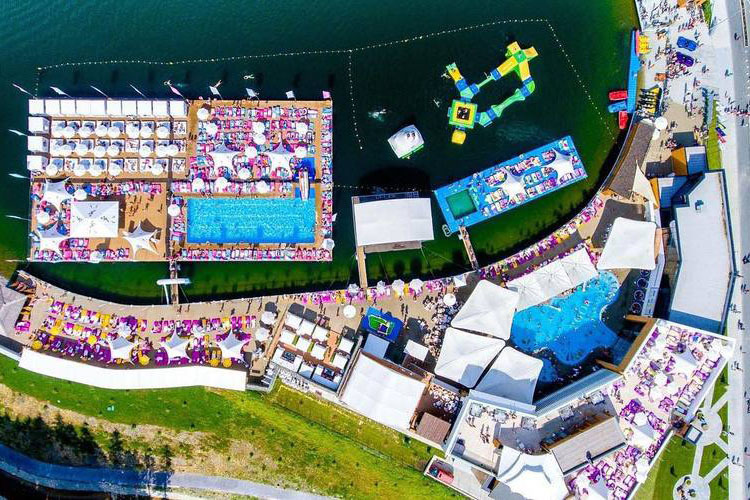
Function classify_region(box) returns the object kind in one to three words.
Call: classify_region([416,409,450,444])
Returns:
shed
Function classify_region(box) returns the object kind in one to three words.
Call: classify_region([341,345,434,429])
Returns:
building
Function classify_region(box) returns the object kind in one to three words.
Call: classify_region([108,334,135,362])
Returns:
tent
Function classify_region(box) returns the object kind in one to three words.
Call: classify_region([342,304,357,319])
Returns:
umbrella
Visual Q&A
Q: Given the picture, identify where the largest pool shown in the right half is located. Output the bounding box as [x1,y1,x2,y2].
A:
[511,269,621,383]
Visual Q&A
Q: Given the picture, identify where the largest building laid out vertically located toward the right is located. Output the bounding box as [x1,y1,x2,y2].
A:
[667,170,736,332]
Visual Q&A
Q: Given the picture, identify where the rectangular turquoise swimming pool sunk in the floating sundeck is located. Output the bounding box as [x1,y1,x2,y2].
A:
[187,198,317,243]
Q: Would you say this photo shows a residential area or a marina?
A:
marina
